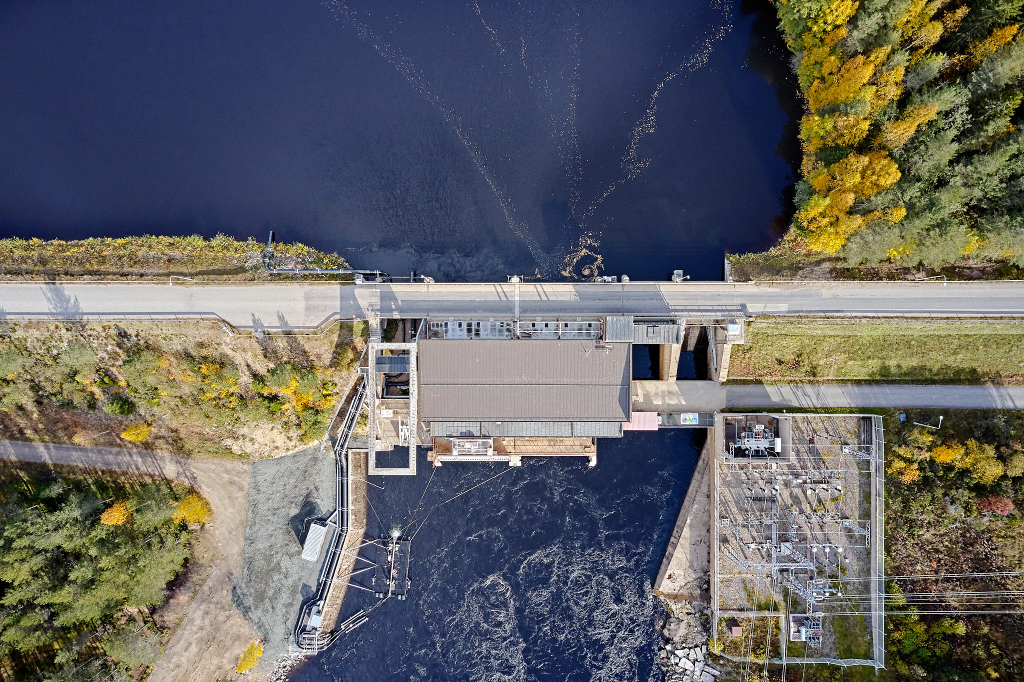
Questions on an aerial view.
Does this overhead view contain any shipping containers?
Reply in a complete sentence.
Yes, the picture does show a shipping container.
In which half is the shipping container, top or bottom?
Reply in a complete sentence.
You can find the shipping container in the bottom half.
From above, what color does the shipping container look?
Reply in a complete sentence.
The color of the shipping container is white.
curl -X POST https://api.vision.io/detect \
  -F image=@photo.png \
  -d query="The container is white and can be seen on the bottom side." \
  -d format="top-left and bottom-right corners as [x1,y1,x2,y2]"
[301,514,333,561]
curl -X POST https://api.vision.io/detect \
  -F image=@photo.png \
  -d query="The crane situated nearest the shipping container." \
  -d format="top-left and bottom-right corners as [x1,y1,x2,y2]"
[452,437,493,456]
